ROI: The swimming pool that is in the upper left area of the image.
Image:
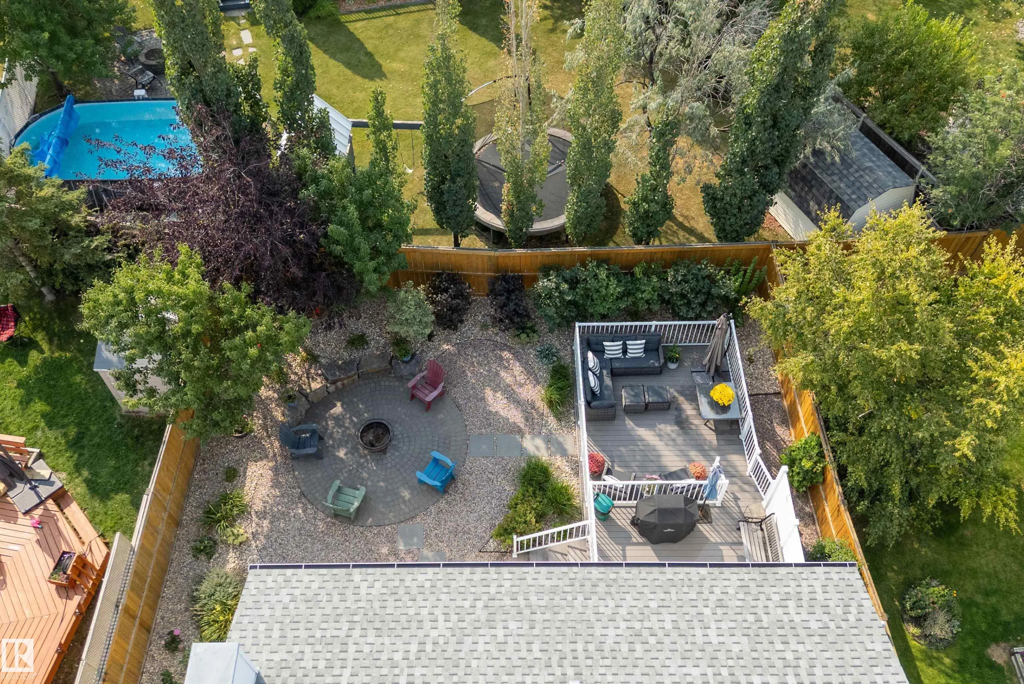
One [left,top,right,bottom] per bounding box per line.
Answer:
[6,96,235,213]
